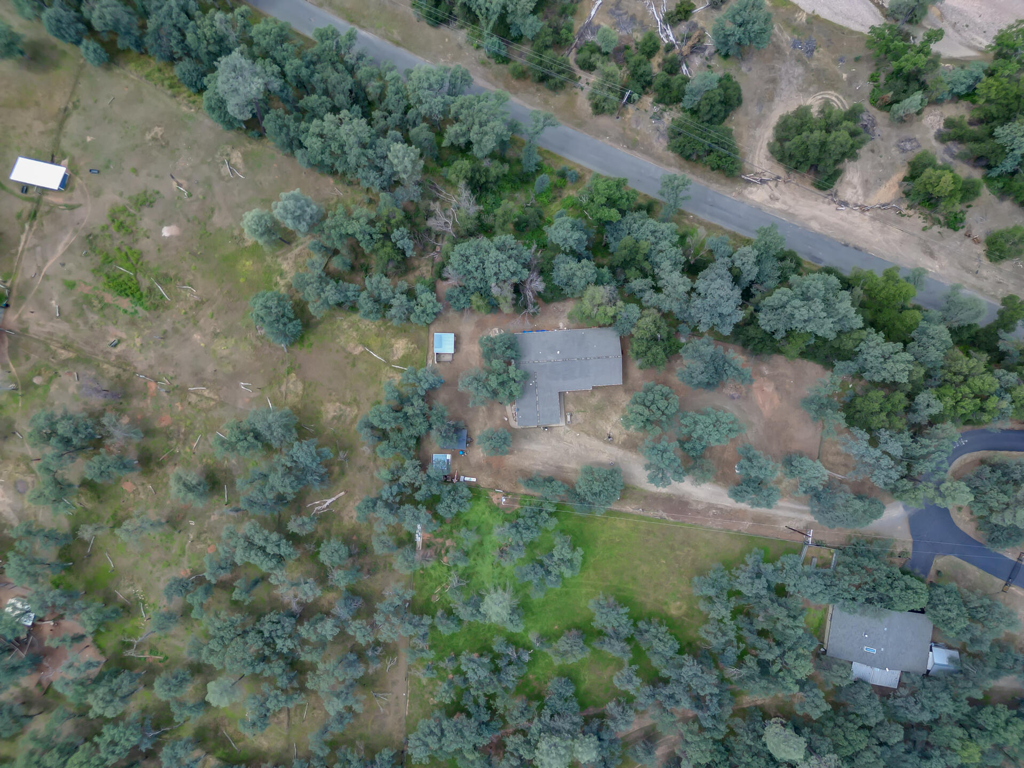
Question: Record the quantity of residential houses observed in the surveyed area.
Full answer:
In total, 2 residential houses can be seen.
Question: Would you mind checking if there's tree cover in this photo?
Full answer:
Yes, there's tree cover in this view.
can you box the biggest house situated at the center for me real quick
[513,326,623,427]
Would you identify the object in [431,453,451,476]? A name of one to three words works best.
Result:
shed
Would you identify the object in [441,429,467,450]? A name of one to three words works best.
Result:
shed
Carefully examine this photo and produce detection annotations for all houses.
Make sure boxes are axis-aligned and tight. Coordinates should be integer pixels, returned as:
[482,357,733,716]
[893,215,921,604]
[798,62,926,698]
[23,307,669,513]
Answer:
[822,602,934,674]
[513,326,623,427]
